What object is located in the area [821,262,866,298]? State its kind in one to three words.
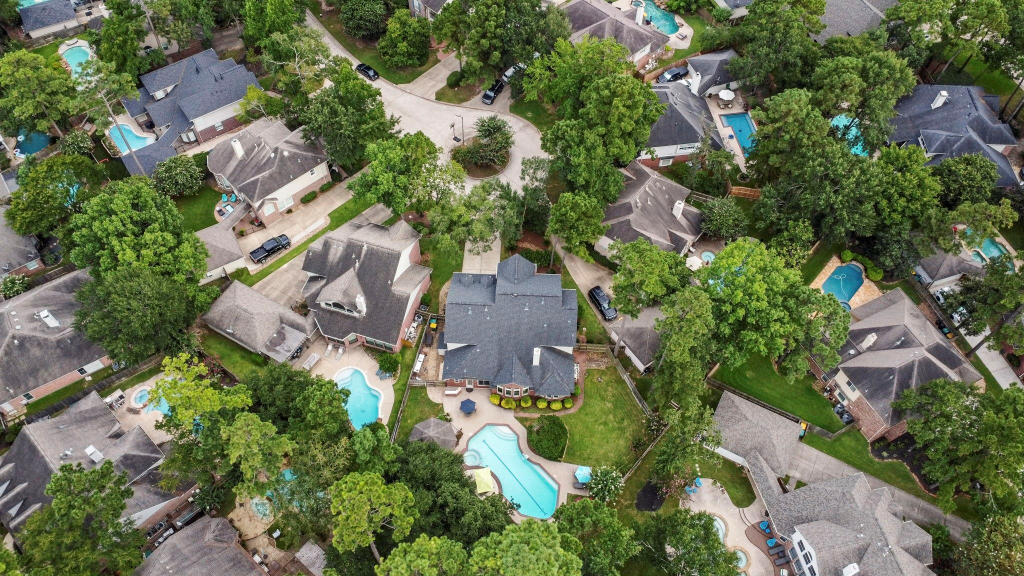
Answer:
swimming pool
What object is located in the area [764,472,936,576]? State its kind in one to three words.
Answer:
house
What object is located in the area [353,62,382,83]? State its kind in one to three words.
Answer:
car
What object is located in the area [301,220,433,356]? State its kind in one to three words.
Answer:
house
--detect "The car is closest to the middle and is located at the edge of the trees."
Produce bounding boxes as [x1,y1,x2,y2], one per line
[588,284,619,323]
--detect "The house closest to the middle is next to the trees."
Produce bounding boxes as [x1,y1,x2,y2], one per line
[438,254,577,407]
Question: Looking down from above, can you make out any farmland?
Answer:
No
